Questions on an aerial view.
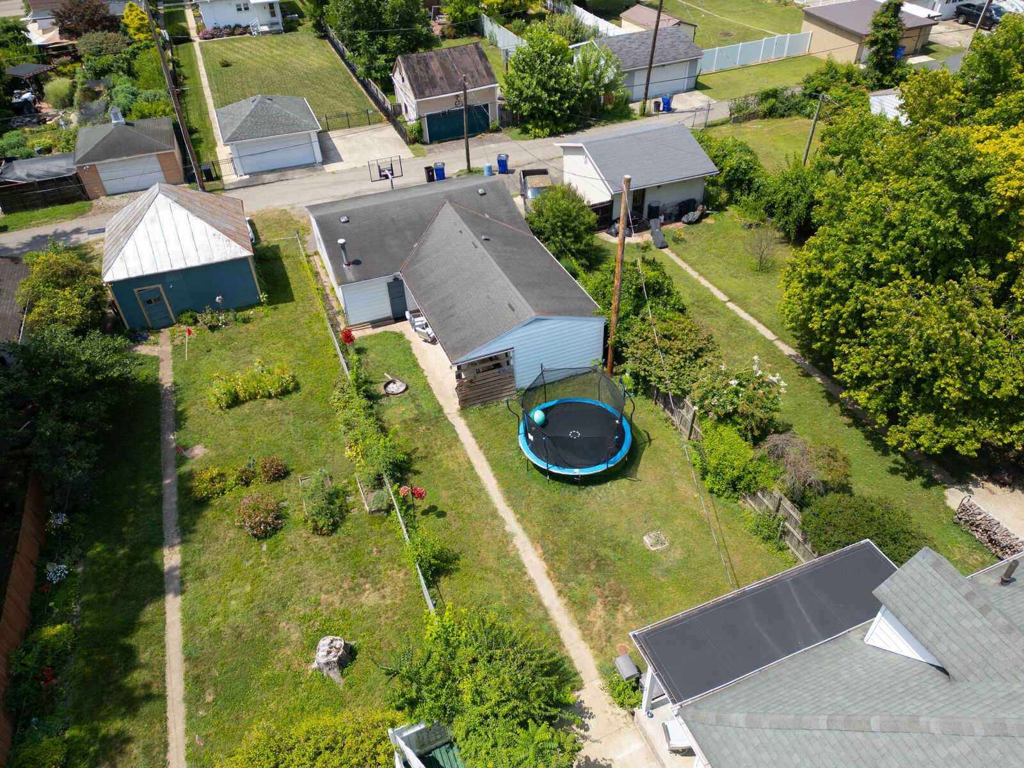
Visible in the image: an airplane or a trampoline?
trampoline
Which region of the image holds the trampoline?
center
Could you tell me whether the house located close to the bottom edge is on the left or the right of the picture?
right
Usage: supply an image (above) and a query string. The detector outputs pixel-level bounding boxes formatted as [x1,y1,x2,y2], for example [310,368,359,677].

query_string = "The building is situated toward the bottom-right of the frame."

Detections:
[629,538,1024,768]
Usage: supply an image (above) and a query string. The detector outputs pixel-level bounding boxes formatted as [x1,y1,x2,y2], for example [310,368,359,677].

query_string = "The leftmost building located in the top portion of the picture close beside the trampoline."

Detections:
[305,176,618,410]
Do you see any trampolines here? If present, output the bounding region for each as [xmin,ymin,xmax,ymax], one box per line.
[508,360,647,494]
